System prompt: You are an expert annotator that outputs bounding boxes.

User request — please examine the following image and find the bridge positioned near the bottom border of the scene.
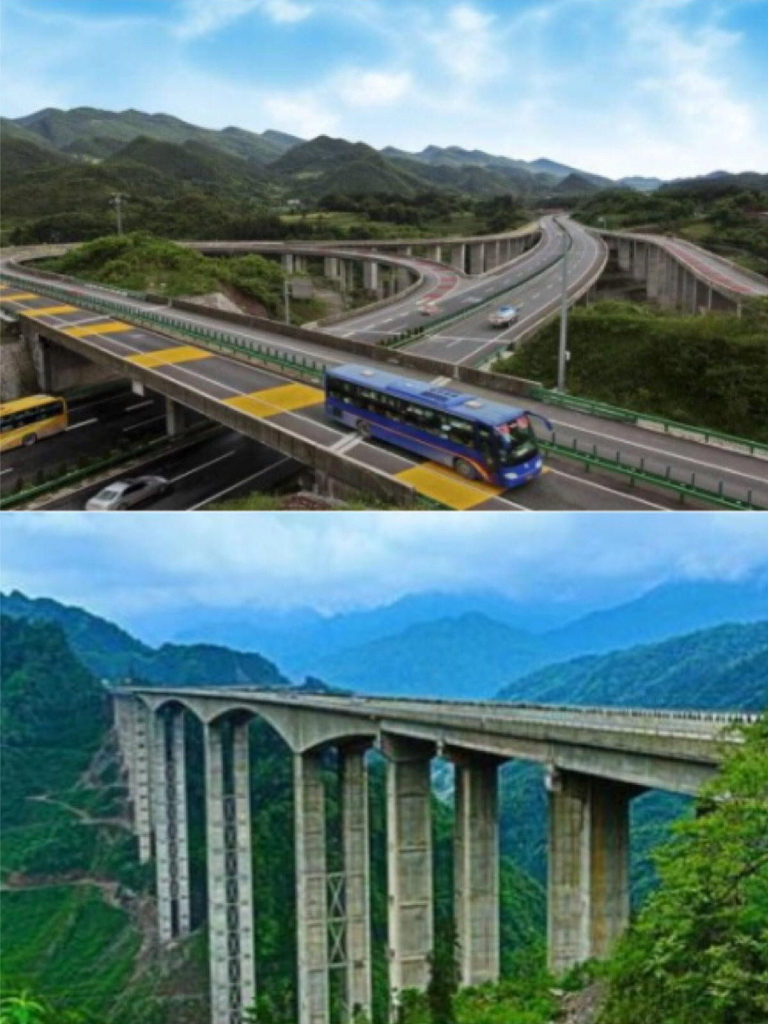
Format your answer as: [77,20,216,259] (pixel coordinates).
[105,686,768,1024]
